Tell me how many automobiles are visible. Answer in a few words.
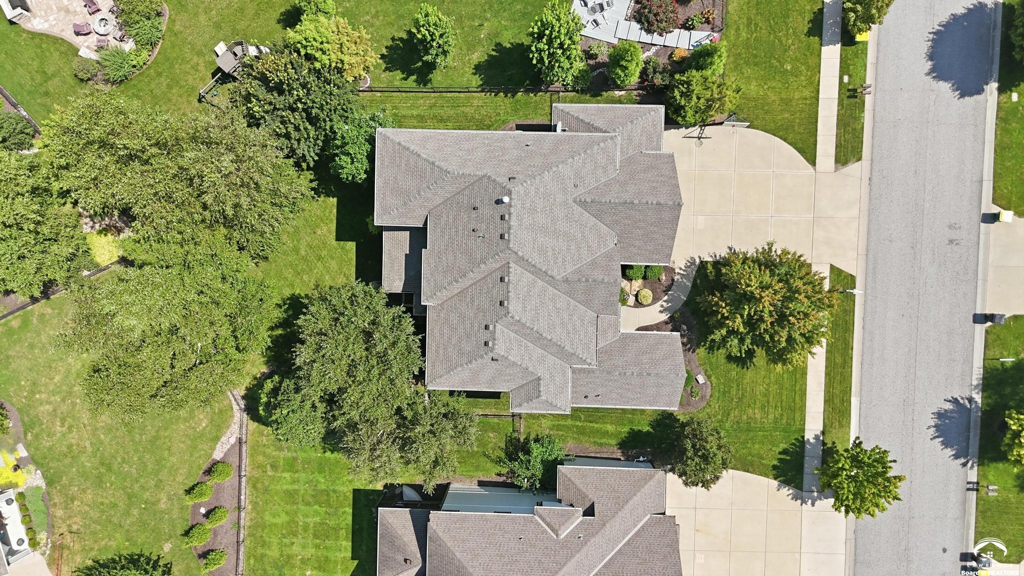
0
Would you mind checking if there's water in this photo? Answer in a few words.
No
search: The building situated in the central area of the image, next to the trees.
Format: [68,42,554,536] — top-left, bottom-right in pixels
[375,104,687,413]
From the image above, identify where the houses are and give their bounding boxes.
[0,535,11,576]
[377,454,684,576]
[375,104,687,413]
